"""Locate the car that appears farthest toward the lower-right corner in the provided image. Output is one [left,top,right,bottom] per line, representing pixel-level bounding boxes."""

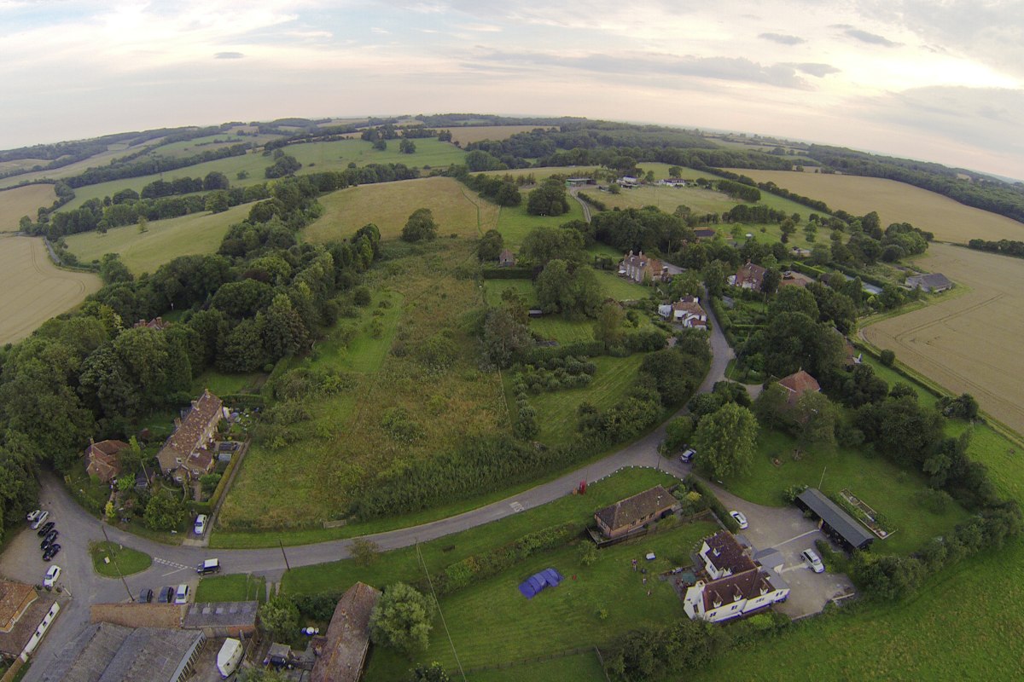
[803,548,823,568]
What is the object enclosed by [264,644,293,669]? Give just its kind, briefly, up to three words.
shed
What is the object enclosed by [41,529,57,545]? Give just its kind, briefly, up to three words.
car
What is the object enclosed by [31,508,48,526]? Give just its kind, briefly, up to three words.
car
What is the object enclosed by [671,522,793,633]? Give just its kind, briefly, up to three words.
house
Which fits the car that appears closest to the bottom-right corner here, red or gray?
gray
